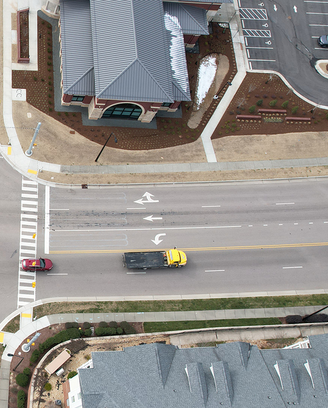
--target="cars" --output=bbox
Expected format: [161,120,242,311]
[318,34,328,45]
[21,257,52,272]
